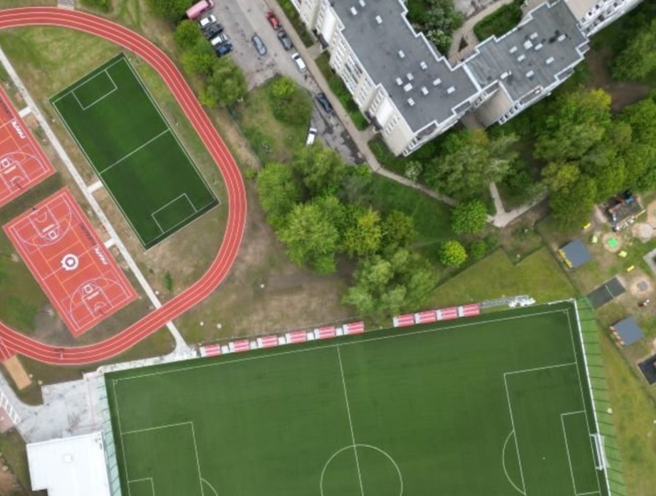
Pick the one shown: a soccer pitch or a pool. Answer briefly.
soccer pitch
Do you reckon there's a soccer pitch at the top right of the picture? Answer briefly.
No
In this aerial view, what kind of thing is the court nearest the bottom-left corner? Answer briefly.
basketball court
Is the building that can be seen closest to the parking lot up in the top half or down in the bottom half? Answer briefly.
top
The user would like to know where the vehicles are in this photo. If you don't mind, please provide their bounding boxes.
[198,14,217,27]
[315,92,332,113]
[276,30,292,51]
[203,22,224,37]
[265,12,280,30]
[251,35,266,55]
[185,0,212,19]
[305,125,317,147]
[217,42,234,55]
[210,32,229,45]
